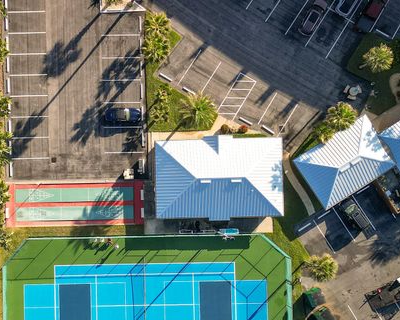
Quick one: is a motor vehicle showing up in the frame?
Yes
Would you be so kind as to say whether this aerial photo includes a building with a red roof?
No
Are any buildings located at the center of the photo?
Yes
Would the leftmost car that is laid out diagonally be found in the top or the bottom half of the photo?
top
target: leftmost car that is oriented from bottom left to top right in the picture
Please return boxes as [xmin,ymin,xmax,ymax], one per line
[298,0,329,31]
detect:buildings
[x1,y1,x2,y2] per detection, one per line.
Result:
[292,115,395,209]
[154,134,284,221]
